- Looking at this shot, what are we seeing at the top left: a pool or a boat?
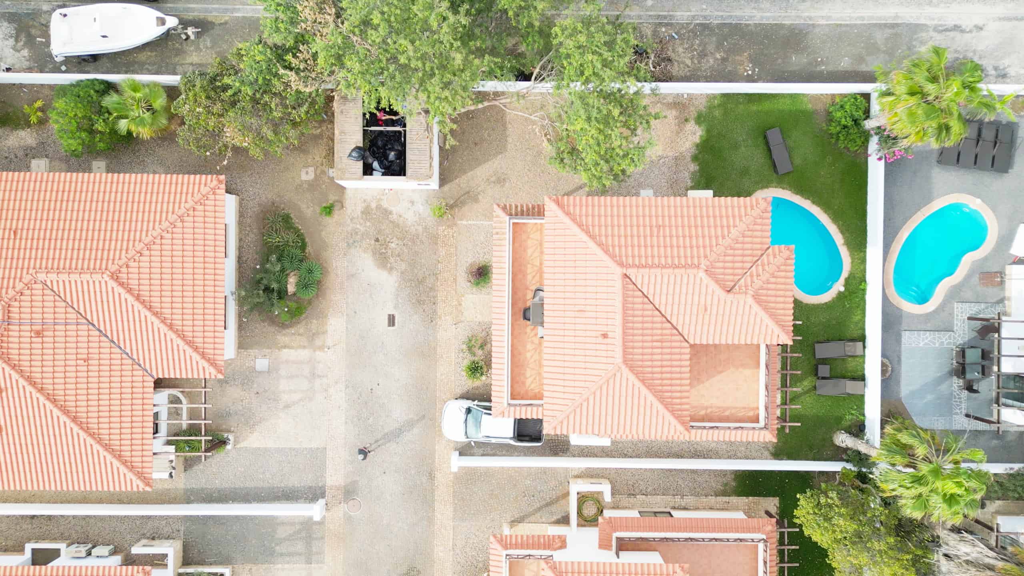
boat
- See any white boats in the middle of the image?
No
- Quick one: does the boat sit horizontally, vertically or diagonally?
horizontally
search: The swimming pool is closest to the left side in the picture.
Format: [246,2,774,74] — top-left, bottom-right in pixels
[763,189,853,304]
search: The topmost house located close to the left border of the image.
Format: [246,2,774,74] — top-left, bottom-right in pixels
[0,172,241,493]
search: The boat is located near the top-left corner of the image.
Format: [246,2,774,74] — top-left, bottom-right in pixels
[51,3,178,56]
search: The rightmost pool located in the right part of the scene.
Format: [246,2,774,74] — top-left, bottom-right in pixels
[884,193,998,314]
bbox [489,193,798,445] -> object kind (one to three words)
house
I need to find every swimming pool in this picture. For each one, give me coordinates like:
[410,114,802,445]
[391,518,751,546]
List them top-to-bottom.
[763,189,853,304]
[884,193,998,314]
